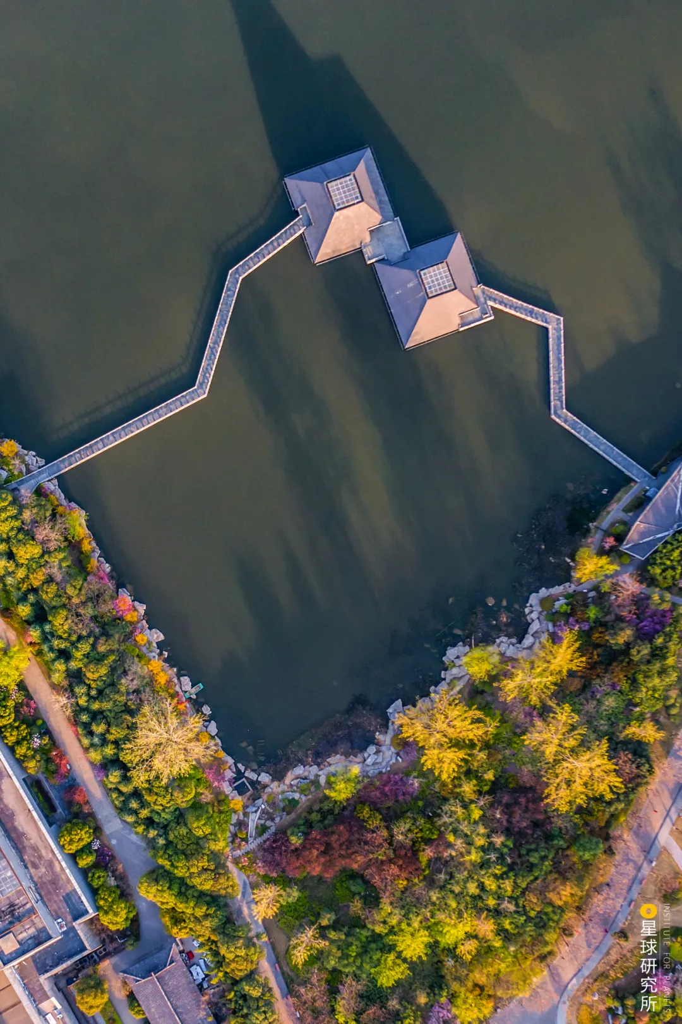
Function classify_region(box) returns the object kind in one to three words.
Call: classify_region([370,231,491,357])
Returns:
building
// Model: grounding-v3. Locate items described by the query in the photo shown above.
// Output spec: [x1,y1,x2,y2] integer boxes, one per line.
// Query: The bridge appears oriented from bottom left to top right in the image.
[41,215,303,479]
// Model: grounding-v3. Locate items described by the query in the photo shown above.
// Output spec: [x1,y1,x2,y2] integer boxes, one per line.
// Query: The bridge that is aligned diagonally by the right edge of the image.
[481,285,653,483]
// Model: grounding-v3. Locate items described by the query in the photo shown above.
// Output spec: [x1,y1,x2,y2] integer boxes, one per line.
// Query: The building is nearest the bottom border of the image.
[118,942,219,1024]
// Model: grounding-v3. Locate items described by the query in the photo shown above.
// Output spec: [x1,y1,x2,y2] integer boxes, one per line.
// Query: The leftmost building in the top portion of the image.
[280,147,396,273]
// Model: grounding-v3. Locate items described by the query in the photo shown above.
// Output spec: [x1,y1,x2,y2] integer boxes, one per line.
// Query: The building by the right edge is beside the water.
[619,458,682,560]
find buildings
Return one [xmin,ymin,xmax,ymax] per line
[619,458,682,560]
[0,736,102,1024]
[370,231,491,357]
[118,942,219,1024]
[280,147,396,273]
